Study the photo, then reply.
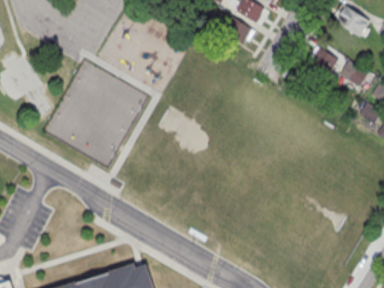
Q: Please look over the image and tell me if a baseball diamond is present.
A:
Yes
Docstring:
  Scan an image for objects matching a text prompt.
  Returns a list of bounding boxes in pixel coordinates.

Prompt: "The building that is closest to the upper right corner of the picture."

[336,6,370,37]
